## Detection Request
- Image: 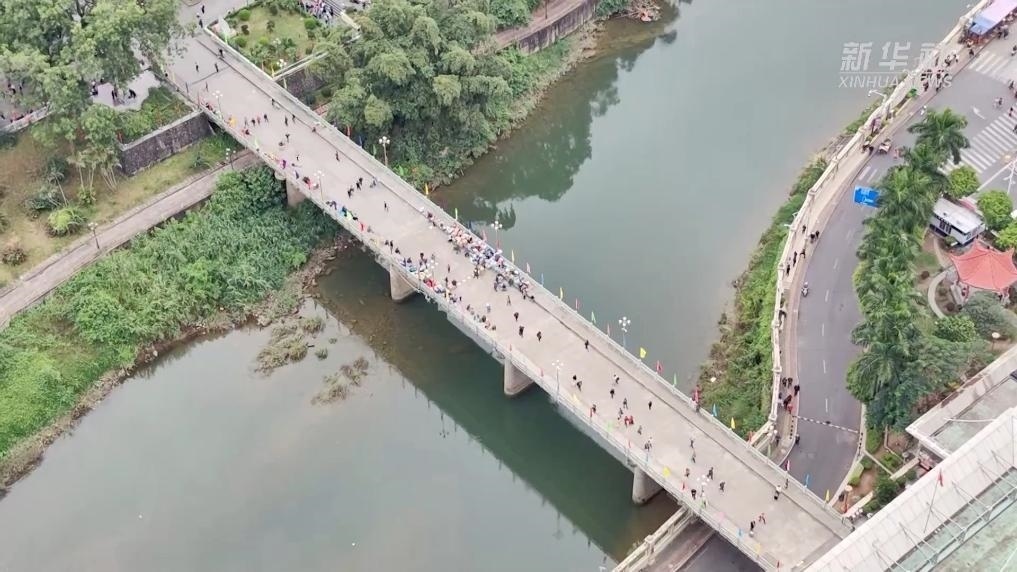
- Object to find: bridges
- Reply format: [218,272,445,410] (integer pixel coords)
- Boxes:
[170,44,852,572]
